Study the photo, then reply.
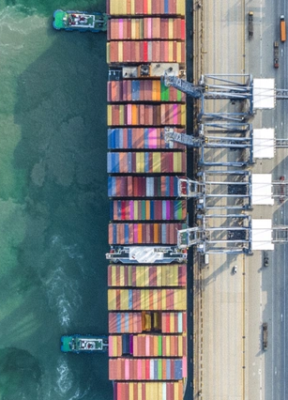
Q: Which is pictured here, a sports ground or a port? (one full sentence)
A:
What you see here is a port.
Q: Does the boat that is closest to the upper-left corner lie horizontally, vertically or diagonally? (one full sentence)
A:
In this picture, the boat that is closest to the upper-left corner is oriented horizontally.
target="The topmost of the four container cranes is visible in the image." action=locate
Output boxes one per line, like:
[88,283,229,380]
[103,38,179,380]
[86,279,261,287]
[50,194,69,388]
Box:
[158,70,288,128]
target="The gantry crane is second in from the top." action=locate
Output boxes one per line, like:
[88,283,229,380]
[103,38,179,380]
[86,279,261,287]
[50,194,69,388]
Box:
[158,124,288,169]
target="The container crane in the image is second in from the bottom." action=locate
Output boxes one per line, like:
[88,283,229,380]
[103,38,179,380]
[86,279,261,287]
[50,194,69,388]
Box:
[172,169,288,214]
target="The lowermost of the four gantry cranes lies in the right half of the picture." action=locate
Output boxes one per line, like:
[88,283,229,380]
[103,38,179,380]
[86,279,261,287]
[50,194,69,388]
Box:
[170,210,288,254]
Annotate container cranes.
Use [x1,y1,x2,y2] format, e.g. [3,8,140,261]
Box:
[172,169,288,214]
[158,70,288,128]
[170,210,288,254]
[158,124,288,169]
